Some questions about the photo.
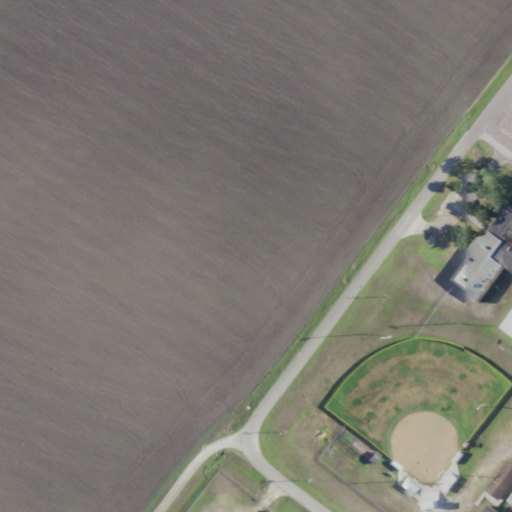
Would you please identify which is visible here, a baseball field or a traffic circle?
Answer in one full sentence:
This aerial view contains a baseball field.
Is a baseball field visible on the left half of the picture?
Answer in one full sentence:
No, I can find no baseball field on the left half of the picture.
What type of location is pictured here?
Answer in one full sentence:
What you see here is farmland.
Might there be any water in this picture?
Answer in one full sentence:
No, there is no water in the image.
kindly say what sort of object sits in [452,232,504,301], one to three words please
building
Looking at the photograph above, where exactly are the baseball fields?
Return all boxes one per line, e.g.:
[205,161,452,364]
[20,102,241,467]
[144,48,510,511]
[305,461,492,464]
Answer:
[326,338,511,484]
